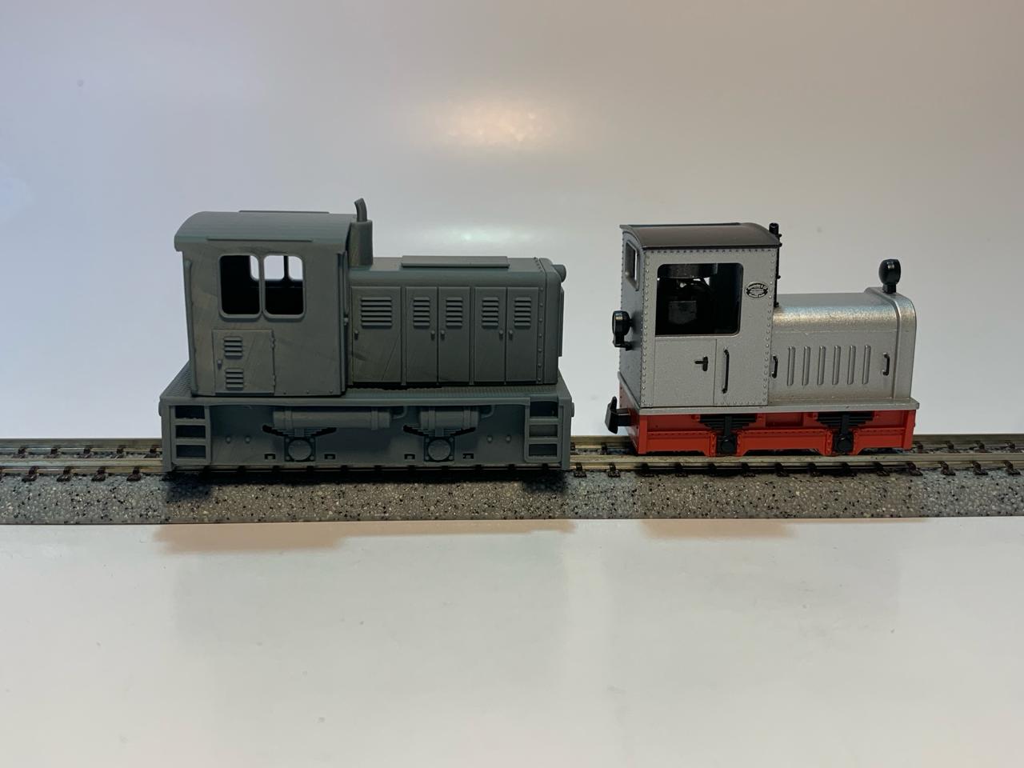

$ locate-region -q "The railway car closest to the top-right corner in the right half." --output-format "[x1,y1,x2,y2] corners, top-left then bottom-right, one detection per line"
[604,222,919,459]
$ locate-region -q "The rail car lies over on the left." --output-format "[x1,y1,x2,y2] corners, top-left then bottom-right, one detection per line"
[157,196,574,472]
